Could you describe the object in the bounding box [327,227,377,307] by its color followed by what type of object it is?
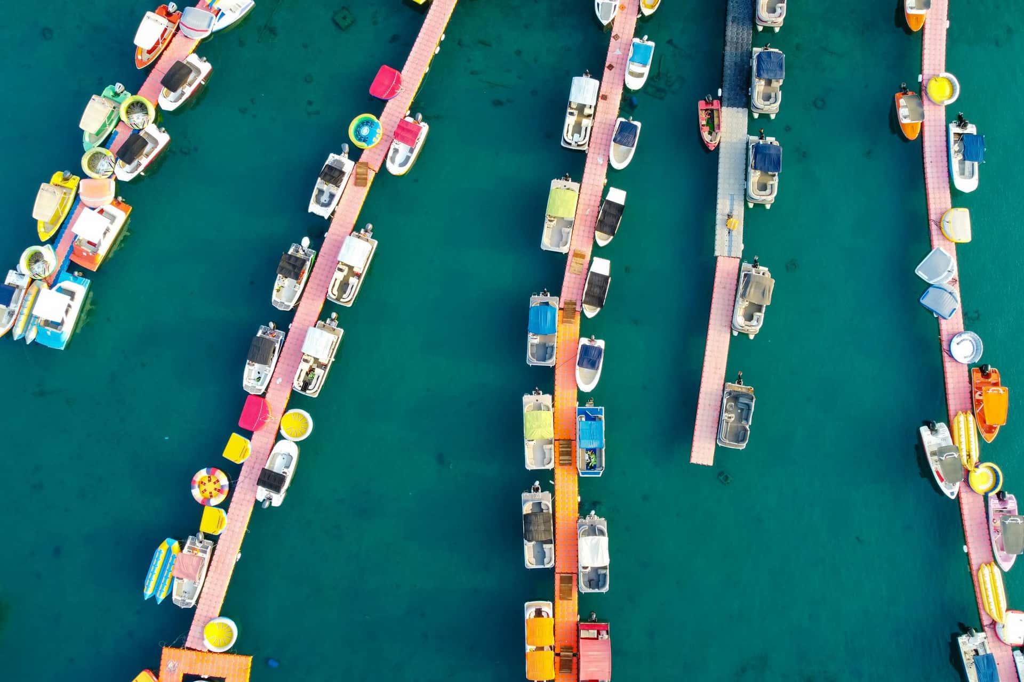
white boat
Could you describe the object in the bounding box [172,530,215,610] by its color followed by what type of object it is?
white boat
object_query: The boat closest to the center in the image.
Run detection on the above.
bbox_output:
[527,286,559,368]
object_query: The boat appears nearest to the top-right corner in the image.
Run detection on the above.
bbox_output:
[897,0,929,36]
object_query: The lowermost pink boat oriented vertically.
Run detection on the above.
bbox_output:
[579,610,611,682]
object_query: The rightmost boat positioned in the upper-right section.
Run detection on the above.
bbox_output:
[947,119,984,195]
